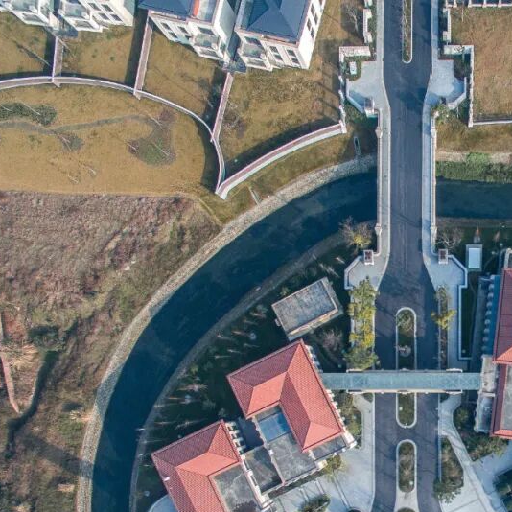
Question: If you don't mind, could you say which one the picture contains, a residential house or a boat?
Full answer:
The one in the frame is a residential house.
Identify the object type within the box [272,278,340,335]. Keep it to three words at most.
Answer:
building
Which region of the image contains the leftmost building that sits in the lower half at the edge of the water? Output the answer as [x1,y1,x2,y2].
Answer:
[151,420,284,512]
